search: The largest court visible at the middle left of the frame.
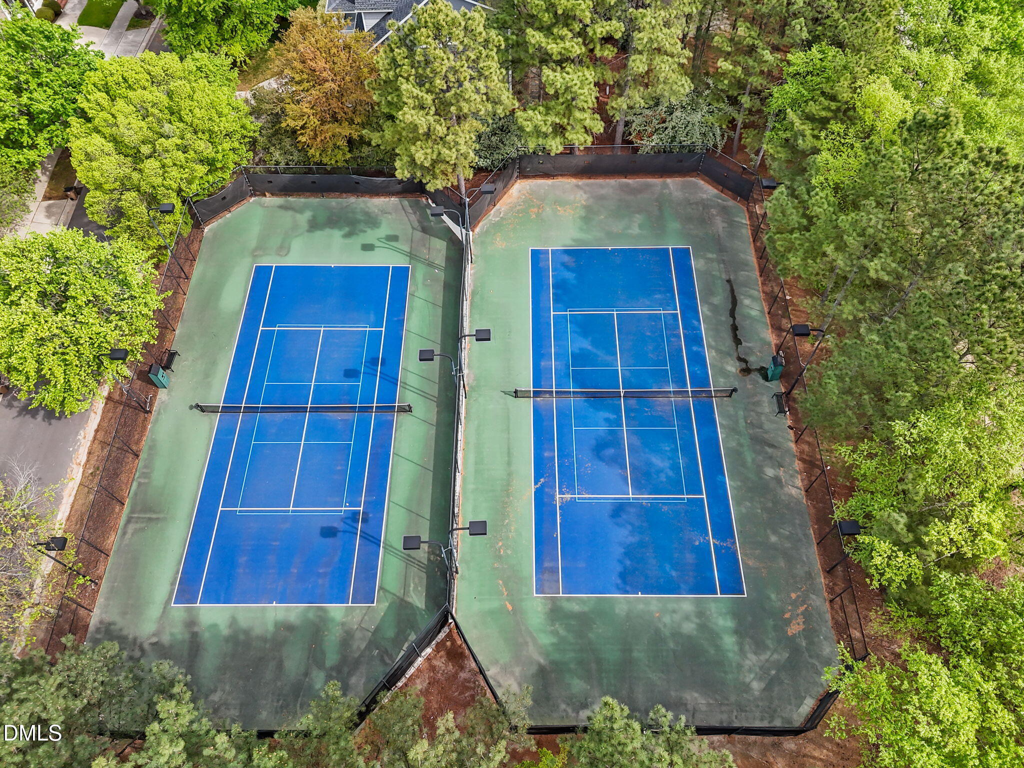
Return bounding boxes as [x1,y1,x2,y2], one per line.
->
[80,197,467,726]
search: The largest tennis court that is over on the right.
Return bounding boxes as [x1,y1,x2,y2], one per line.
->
[454,179,838,726]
